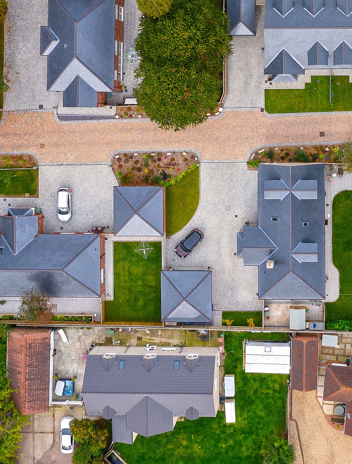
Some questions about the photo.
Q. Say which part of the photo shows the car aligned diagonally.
center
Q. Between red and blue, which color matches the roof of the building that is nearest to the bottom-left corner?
red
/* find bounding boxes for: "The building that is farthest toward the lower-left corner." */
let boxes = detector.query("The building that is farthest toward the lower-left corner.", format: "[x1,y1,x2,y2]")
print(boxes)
[7,327,55,414]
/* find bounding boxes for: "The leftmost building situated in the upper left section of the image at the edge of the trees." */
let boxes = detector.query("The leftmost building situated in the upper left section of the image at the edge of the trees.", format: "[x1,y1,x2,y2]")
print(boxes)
[39,0,125,108]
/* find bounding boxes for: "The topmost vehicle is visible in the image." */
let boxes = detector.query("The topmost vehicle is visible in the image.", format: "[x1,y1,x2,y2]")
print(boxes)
[55,188,73,221]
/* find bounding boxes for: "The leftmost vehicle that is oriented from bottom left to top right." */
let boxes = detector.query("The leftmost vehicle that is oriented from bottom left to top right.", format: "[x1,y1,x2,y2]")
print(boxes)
[177,227,203,260]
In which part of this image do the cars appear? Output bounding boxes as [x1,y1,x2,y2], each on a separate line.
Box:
[55,188,73,221]
[177,227,203,260]
[58,415,76,454]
